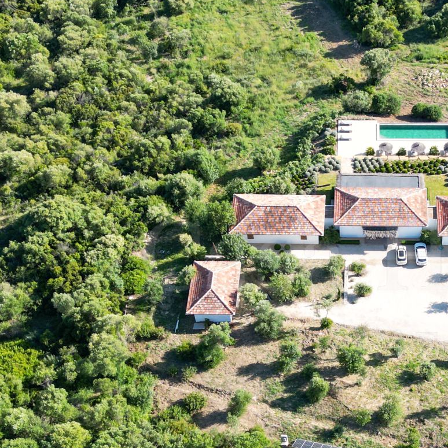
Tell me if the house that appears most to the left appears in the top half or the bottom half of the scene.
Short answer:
bottom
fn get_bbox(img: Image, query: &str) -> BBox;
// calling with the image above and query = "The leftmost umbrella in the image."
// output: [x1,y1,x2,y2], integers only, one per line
[376,143,395,157]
